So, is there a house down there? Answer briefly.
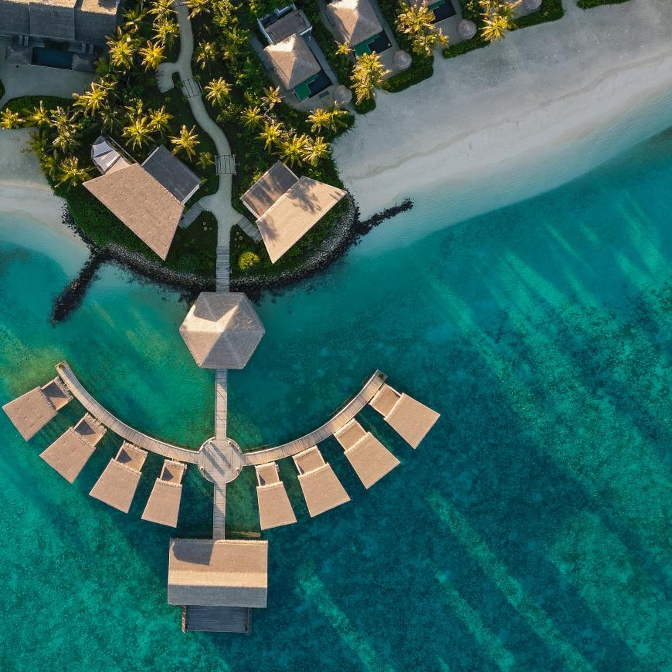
Yes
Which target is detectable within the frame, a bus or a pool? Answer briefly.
pool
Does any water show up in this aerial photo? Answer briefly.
Yes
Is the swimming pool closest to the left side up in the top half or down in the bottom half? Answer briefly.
top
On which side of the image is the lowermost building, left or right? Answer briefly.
left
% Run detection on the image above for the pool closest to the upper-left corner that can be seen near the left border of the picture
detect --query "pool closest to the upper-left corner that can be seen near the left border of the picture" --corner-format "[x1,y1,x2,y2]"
[32,45,74,70]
